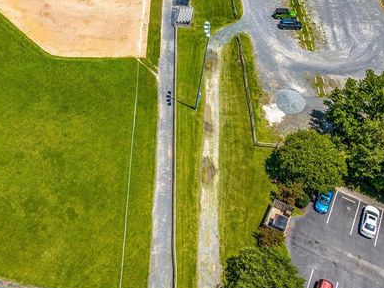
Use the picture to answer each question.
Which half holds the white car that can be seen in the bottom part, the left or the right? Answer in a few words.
right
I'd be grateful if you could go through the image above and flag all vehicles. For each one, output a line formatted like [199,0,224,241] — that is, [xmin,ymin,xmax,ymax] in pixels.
[313,187,335,217]
[316,272,336,288]
[272,7,296,20]
[276,18,304,32]
[358,204,381,240]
